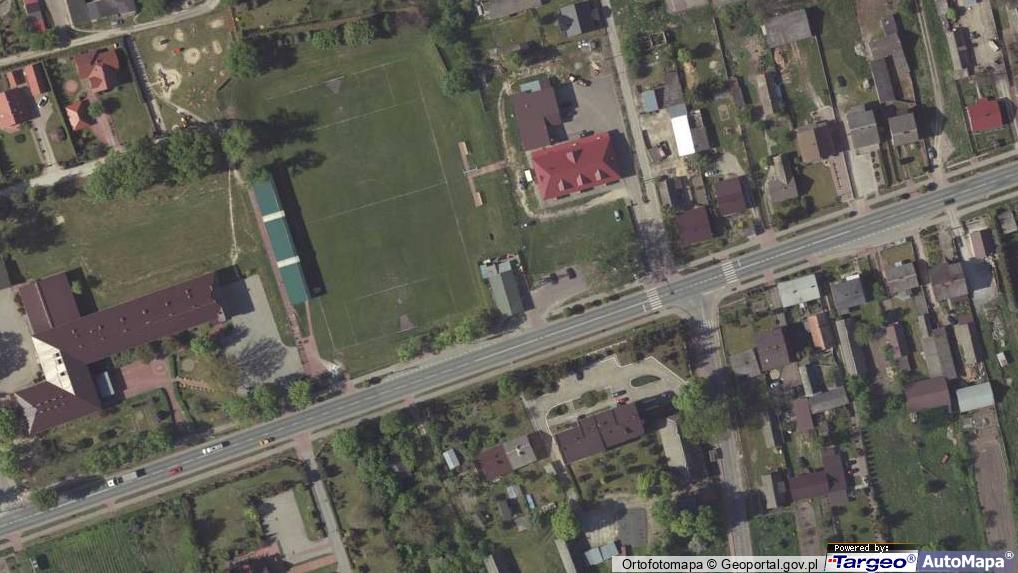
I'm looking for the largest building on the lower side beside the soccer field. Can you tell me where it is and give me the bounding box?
[15,271,224,433]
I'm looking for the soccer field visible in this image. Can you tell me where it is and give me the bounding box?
[265,58,481,350]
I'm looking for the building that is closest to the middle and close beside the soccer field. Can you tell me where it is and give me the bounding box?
[477,261,523,314]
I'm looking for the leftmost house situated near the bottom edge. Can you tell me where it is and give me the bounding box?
[222,542,279,573]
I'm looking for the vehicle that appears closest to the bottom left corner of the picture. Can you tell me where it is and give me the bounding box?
[107,472,136,485]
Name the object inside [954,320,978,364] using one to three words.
shed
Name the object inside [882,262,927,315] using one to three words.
house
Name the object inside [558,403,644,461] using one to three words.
building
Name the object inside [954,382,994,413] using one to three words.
barn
